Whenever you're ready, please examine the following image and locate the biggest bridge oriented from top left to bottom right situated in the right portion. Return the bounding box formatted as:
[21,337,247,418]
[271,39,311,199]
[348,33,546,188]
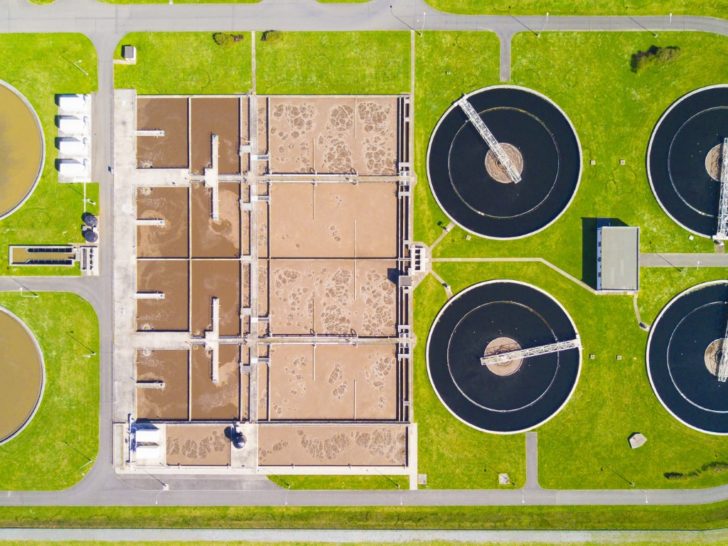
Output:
[456,96,523,183]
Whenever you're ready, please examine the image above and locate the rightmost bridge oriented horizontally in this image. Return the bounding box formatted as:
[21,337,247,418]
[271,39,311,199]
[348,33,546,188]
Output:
[480,336,581,365]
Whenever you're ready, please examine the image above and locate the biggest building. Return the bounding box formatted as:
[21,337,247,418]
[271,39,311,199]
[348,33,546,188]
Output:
[597,227,640,291]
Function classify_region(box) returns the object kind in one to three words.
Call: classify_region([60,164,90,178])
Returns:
building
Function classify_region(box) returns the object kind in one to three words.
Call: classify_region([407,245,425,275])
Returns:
building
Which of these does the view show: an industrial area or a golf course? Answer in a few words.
industrial area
